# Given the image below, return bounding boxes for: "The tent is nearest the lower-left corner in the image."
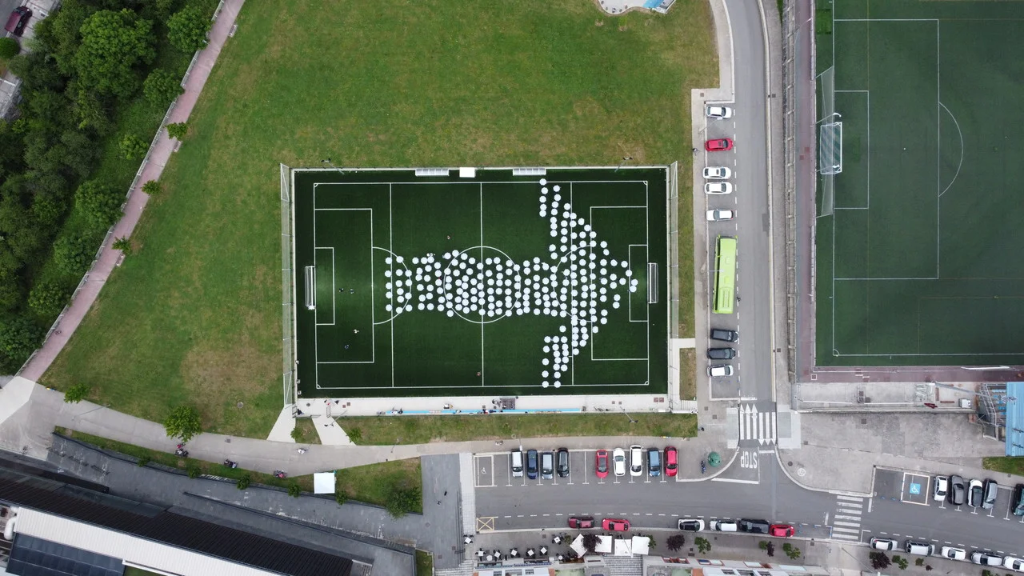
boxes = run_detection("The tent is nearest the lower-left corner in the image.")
[314,469,338,493]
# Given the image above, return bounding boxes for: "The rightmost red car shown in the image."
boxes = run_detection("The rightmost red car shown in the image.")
[769,522,795,537]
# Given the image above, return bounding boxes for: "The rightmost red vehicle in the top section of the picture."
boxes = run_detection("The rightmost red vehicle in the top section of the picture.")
[704,138,733,152]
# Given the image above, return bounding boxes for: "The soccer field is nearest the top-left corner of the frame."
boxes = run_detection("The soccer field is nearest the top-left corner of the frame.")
[291,166,671,399]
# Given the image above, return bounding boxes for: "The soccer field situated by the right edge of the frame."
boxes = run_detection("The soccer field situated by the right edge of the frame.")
[816,0,1024,367]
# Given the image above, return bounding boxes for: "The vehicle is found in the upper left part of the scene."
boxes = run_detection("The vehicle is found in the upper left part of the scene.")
[3,6,33,36]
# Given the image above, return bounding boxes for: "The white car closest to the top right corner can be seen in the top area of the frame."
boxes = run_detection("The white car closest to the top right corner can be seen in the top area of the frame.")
[705,105,732,119]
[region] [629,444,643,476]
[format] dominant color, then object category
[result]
white car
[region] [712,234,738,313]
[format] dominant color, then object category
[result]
green bus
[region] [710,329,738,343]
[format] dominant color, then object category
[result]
gray car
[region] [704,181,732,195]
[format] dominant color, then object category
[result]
white car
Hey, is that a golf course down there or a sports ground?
sports ground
